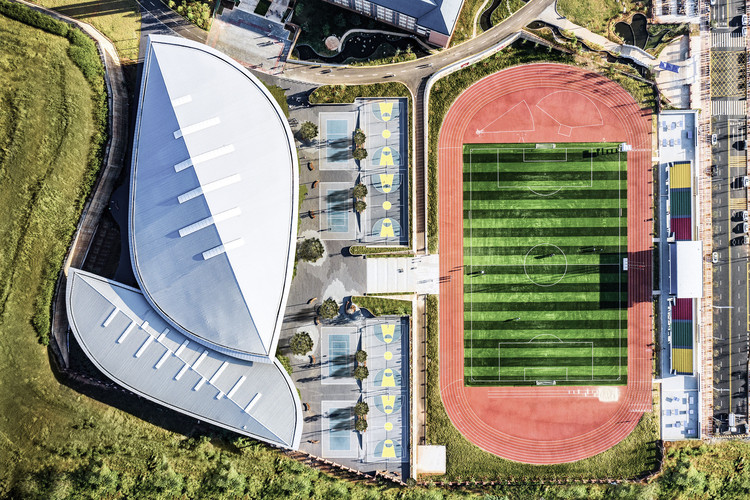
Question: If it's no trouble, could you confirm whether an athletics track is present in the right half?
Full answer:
Yes, you'll find an athletics track in the right half.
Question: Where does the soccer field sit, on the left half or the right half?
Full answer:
The soccer field is on the right side of the image.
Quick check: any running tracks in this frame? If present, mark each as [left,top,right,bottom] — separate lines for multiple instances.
[438,63,655,463]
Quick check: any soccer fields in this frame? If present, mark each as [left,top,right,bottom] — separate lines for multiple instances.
[464,143,628,387]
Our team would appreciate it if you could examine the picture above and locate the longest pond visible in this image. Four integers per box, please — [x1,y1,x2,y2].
[295,34,417,62]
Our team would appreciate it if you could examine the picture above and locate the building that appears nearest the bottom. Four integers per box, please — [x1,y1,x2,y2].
[417,445,447,473]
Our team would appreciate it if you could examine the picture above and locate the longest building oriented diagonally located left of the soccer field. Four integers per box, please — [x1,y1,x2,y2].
[67,270,302,449]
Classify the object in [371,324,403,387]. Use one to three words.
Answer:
basketball court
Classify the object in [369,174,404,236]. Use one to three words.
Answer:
basketball court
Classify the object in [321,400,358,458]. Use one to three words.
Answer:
sports court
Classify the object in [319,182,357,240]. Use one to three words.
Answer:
sports court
